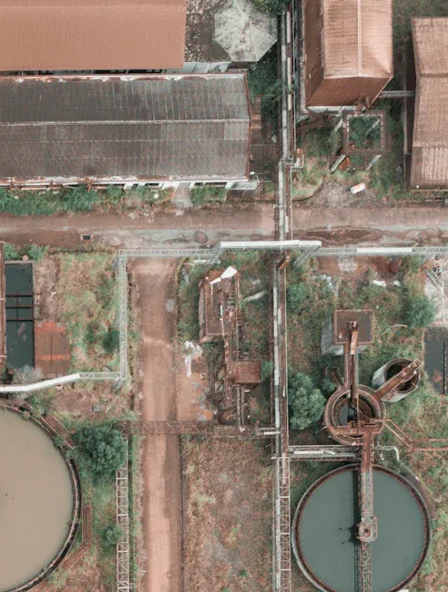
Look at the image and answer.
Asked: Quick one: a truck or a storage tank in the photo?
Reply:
storage tank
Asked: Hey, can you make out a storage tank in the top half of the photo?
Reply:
No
